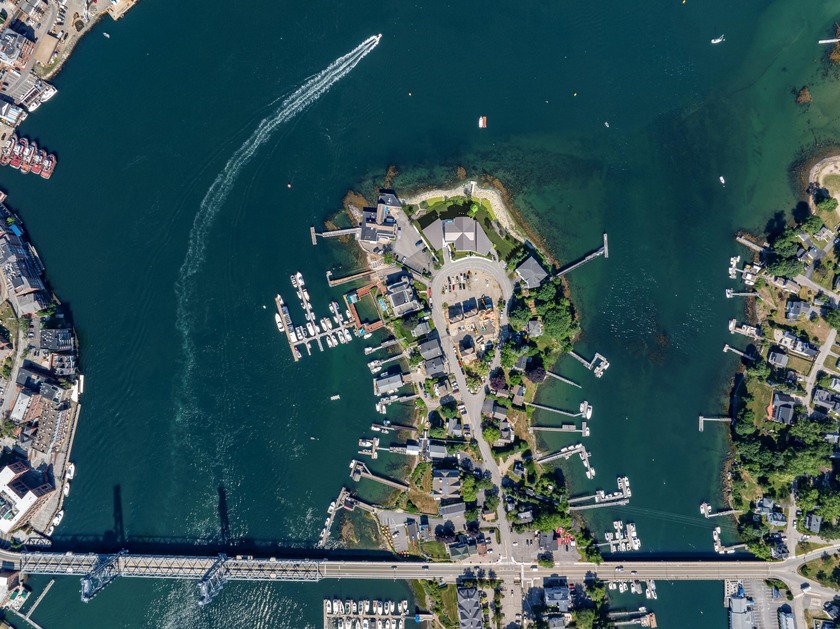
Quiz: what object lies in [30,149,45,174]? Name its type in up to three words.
boat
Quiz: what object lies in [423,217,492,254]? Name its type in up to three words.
building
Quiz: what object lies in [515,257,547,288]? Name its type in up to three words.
house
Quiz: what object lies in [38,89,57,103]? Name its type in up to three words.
ship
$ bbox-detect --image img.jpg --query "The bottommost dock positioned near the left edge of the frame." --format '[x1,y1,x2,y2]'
[7,577,56,629]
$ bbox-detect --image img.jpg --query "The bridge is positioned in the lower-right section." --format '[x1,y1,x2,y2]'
[600,559,764,580]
